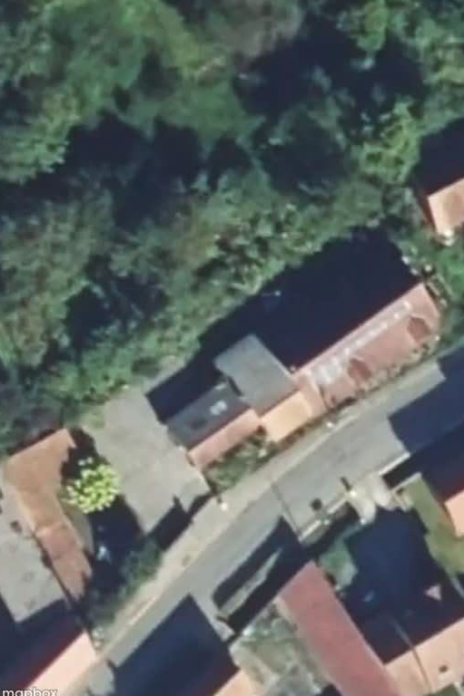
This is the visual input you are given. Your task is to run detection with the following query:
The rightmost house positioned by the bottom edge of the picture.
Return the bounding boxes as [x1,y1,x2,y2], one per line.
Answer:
[365,579,464,696]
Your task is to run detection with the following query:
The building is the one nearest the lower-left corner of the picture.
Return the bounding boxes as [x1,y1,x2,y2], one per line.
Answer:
[0,600,99,696]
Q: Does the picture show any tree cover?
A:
Yes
